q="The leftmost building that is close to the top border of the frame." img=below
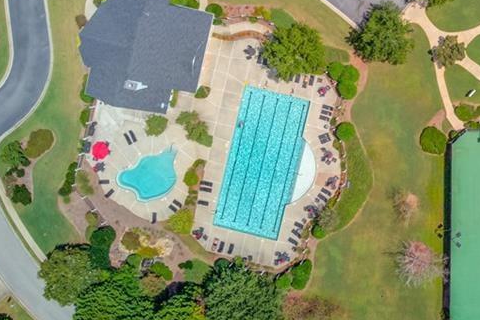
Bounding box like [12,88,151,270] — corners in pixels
[79,0,219,114]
